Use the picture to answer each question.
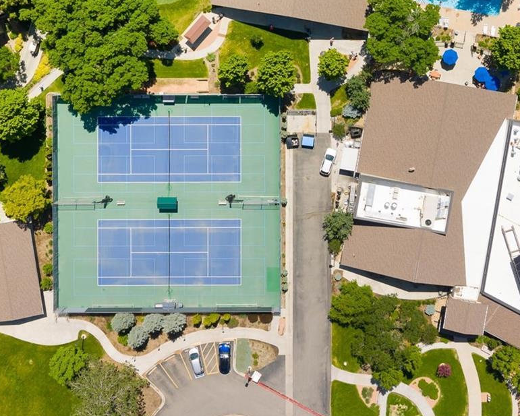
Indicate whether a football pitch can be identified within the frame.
No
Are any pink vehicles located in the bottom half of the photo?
No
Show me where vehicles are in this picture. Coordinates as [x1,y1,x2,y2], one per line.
[188,346,205,378]
[28,39,40,54]
[319,147,336,178]
[218,342,232,374]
